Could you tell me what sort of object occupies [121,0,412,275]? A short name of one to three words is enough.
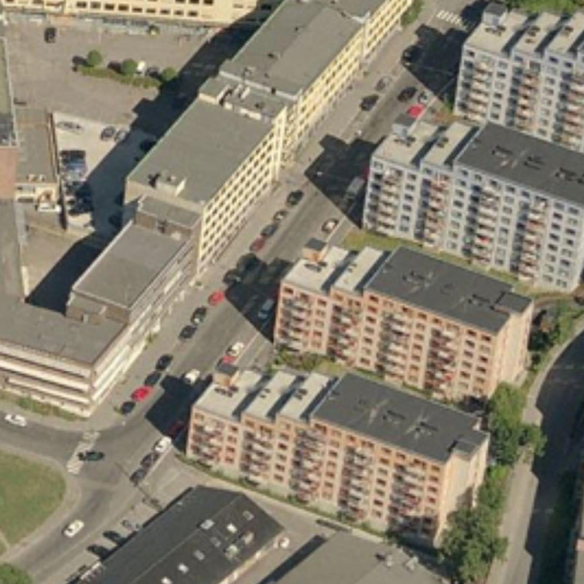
building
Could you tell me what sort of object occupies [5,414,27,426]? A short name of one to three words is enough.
vehicle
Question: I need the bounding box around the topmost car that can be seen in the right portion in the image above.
[403,46,418,60]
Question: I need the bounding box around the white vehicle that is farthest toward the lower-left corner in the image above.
[65,522,83,537]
